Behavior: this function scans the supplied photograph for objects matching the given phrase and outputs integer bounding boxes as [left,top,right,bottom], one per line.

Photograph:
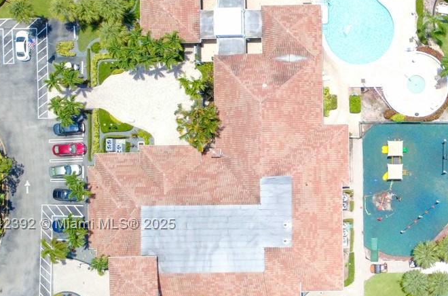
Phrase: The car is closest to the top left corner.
[14,31,32,62]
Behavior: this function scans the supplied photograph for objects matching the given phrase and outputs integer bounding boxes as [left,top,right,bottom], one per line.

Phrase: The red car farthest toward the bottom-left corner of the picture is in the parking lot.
[53,142,87,157]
